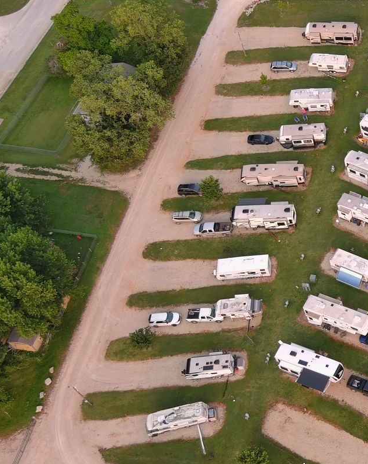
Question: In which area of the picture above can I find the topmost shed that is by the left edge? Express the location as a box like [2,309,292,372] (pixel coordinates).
[7,321,46,352]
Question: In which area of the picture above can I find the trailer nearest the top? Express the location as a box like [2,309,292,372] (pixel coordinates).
[303,23,359,46]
